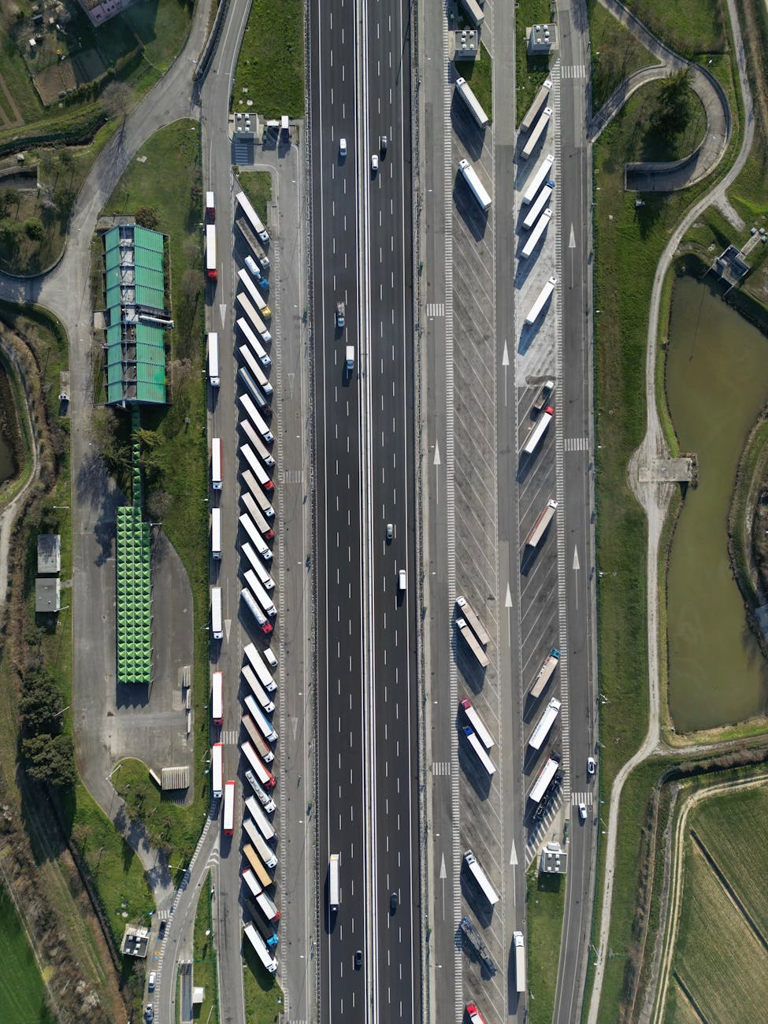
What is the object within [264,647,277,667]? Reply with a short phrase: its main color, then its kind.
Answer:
white vehicle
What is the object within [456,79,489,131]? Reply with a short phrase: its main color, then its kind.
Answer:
white truck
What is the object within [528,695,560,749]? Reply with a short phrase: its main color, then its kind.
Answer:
white truck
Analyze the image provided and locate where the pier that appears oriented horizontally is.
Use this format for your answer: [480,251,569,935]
[639,458,692,482]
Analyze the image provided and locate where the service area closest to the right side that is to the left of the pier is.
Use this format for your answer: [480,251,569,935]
[423,0,594,1024]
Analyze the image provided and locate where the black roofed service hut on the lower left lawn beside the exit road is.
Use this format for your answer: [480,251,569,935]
[123,919,153,957]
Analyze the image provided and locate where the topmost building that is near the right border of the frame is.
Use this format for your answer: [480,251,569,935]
[702,244,755,294]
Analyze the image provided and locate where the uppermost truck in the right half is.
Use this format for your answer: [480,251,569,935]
[459,0,484,30]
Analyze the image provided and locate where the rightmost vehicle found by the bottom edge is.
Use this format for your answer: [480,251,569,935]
[513,926,525,992]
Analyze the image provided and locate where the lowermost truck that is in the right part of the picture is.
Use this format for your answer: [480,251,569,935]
[466,994,489,1024]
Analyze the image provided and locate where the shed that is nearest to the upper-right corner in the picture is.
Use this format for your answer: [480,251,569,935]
[531,23,556,50]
